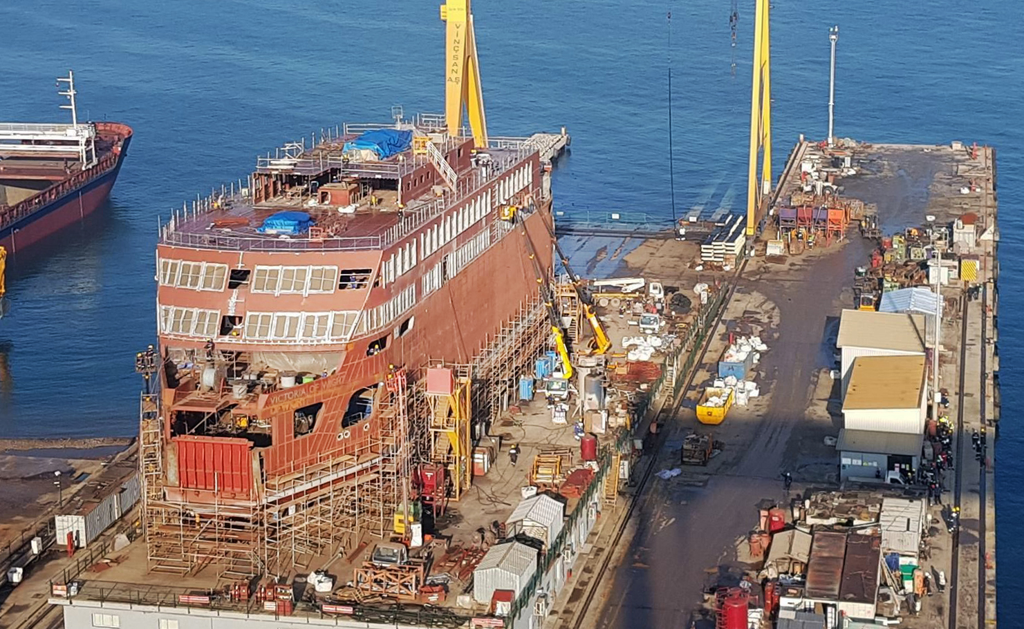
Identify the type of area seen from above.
port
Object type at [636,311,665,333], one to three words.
truck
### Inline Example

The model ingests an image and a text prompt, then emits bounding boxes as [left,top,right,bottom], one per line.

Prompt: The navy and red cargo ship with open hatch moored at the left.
[0,71,125,279]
